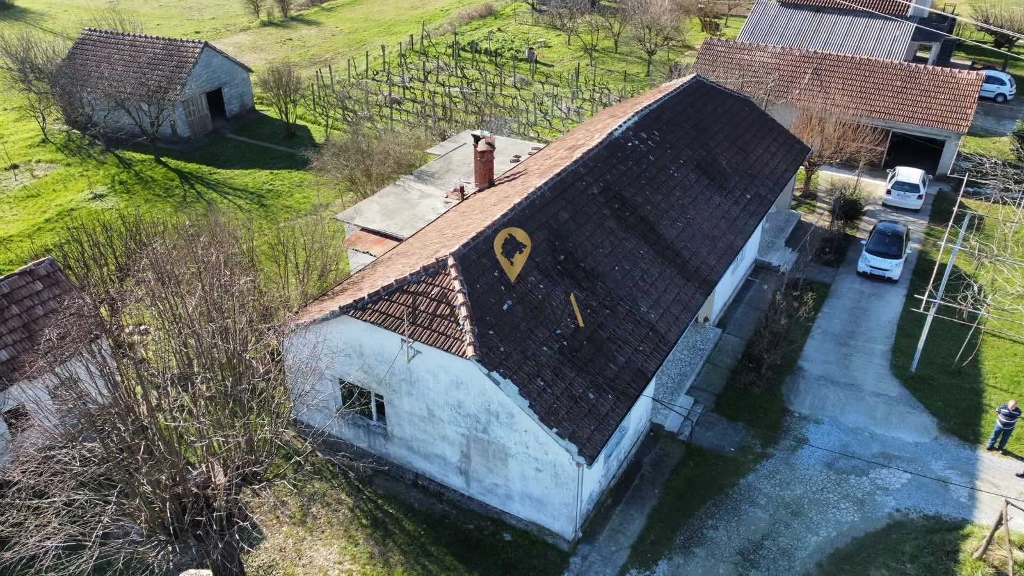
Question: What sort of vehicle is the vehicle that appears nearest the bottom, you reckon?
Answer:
car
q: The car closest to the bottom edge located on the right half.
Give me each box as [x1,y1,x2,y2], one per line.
[854,214,918,281]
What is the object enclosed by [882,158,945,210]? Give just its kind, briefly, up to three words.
car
